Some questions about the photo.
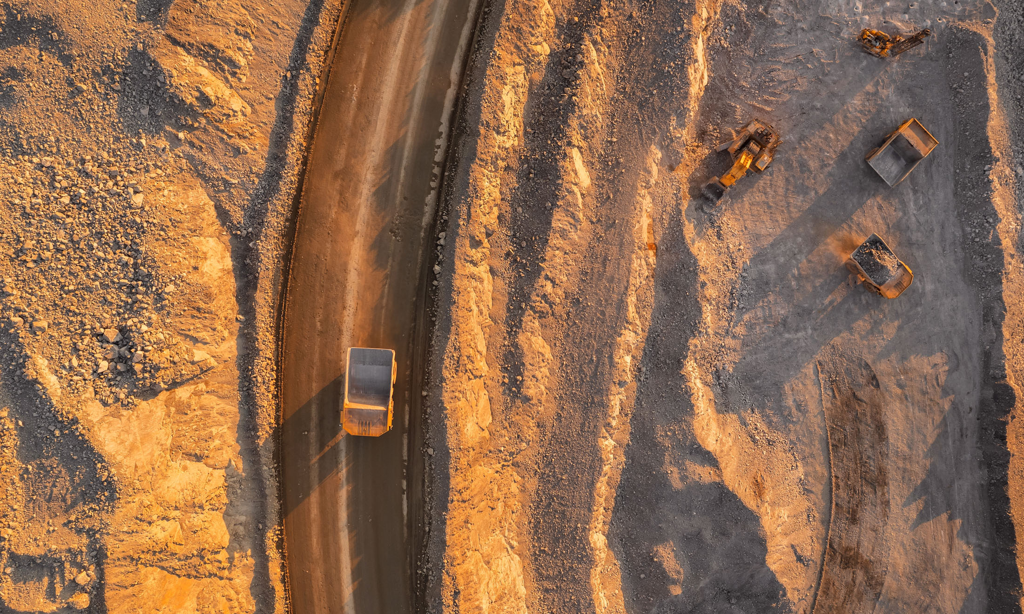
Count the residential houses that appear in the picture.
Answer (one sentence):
No residential houses are visible.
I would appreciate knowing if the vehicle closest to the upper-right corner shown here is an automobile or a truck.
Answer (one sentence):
The vehicle closest to the upper-right corner appears to be a truck.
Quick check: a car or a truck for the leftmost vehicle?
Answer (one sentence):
I'd identify the leftmost vehicle as a truck.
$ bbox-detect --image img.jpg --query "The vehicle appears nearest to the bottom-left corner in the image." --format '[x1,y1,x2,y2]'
[338,346,401,437]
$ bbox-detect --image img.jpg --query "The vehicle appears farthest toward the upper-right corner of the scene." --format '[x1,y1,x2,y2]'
[863,117,939,187]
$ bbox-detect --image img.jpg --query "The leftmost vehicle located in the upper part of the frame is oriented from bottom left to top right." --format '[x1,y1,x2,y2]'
[696,122,778,206]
